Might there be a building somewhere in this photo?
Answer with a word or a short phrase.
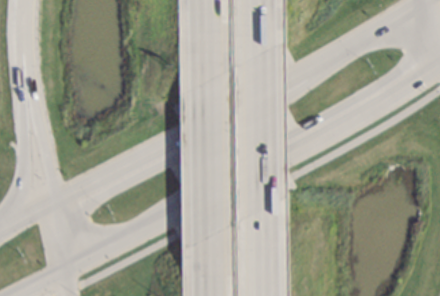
No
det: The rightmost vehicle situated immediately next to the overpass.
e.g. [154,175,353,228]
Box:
[300,116,322,130]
